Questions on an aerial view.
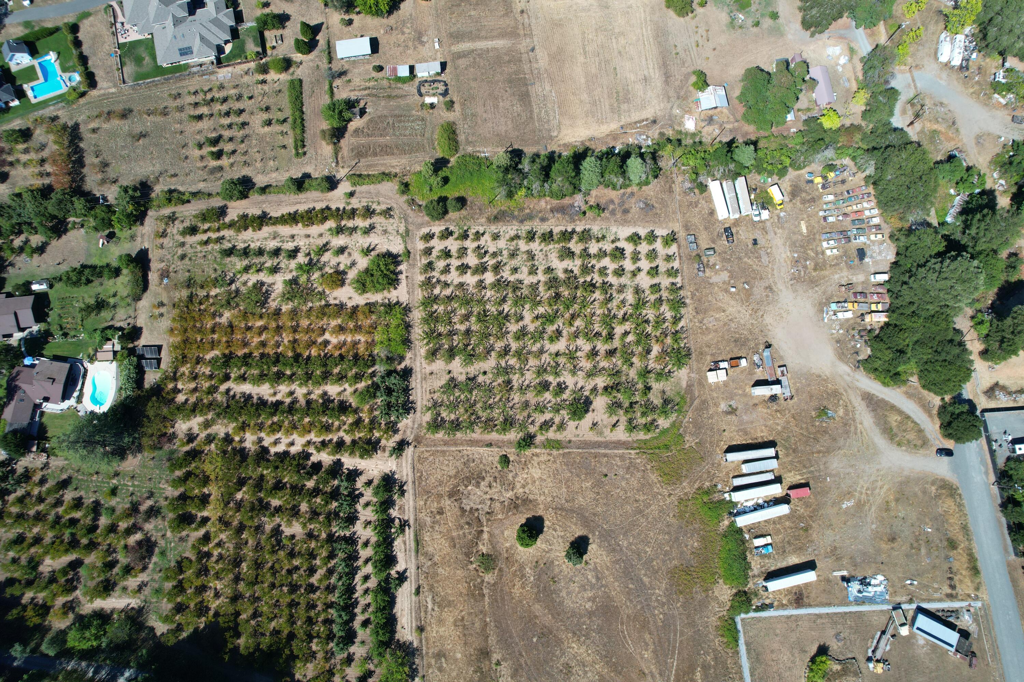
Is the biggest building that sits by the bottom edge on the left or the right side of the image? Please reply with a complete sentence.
The biggest building that sits by the bottom edge sits on the right side.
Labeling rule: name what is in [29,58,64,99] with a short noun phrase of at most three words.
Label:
swimming pool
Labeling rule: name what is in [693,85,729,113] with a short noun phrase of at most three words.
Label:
barn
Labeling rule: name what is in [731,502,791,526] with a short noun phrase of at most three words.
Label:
trailer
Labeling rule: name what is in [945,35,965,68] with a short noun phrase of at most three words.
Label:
camper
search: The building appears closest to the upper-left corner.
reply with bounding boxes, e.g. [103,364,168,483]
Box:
[1,38,36,66]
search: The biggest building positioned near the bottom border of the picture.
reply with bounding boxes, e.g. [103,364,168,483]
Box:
[906,609,960,652]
